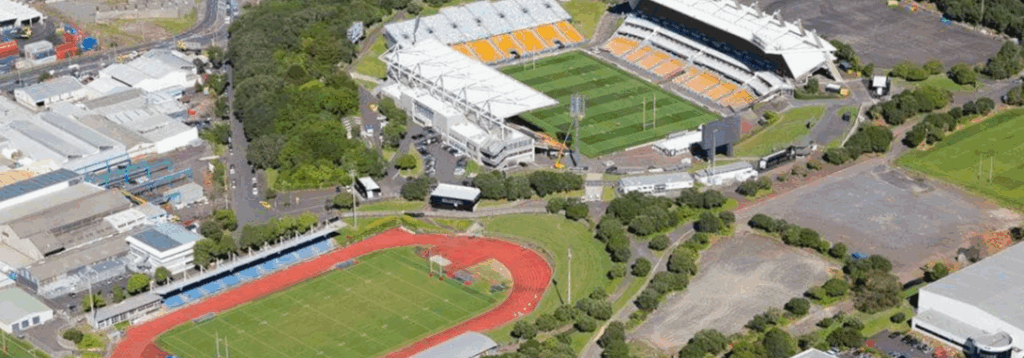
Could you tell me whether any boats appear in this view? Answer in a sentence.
No, I can see no boat in this picture.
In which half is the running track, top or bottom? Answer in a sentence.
Seen from above, the running track lies in the bottom half of the view.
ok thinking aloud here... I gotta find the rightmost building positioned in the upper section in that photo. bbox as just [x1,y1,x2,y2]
[866,76,897,98]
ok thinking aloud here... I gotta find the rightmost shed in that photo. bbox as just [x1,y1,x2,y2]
[913,240,1024,358]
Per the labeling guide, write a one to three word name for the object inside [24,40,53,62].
building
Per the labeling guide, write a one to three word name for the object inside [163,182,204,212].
shed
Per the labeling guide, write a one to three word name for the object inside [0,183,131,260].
building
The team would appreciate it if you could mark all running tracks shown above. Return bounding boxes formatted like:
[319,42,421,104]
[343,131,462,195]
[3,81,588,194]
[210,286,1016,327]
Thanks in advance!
[110,227,552,358]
